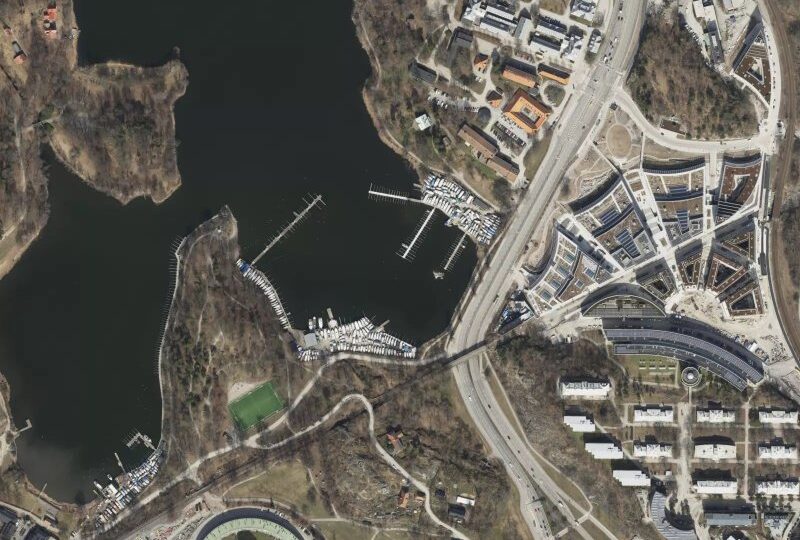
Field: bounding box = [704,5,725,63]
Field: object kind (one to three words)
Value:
shed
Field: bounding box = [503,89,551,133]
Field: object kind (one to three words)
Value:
house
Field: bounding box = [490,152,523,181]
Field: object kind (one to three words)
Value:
house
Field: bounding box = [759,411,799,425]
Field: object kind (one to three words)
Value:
building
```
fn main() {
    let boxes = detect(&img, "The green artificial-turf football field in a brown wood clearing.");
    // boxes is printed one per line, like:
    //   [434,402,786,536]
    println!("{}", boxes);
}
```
[228,381,287,431]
